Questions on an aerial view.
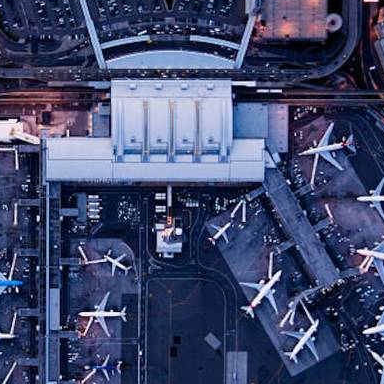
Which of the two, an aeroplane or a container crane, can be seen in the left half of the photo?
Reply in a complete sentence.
Visible in the left half of the photo is an aeroplane.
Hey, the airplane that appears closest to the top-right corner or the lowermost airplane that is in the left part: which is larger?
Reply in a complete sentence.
Compared with the lowermost airplane that is in the left part, the airplane that appears closest to the top-right corner is the bigger one.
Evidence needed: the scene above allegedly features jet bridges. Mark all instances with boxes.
[364,257,374,275]
[290,309,297,326]
[79,316,94,338]
[79,369,97,384]
[311,153,319,190]
[4,360,18,384]
[359,255,370,274]
[325,203,335,225]
[280,308,295,328]
[84,257,108,265]
[10,311,18,335]
[231,200,245,219]
[0,148,19,171]
[77,245,86,264]
[300,300,316,324]
[8,251,18,281]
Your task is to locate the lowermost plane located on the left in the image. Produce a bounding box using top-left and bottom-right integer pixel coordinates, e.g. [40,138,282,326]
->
[86,355,122,380]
